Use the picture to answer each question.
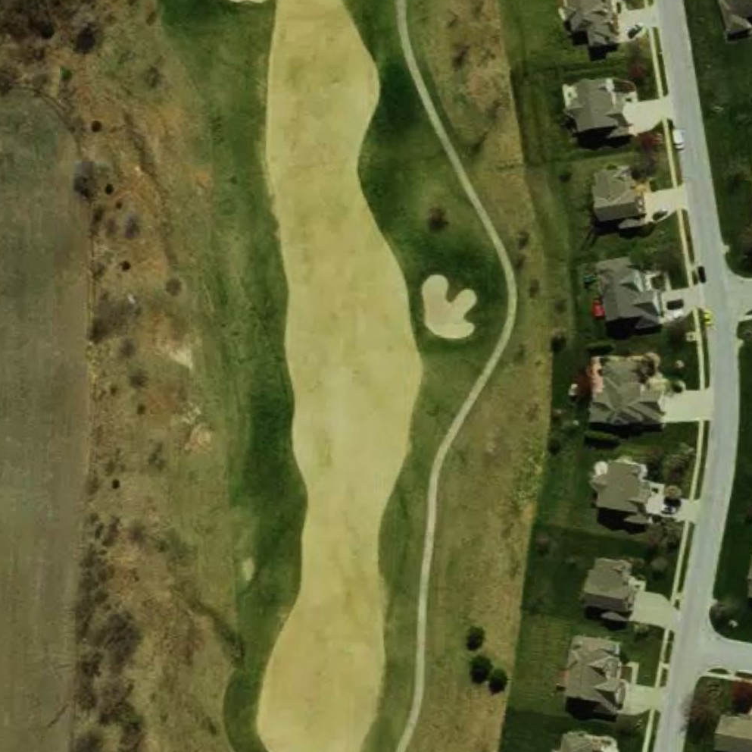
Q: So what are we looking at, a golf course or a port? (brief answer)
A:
golf course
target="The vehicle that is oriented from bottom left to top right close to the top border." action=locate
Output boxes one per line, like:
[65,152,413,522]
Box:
[626,24,643,38]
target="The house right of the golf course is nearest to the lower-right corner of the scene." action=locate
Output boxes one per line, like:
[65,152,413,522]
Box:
[713,711,752,752]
